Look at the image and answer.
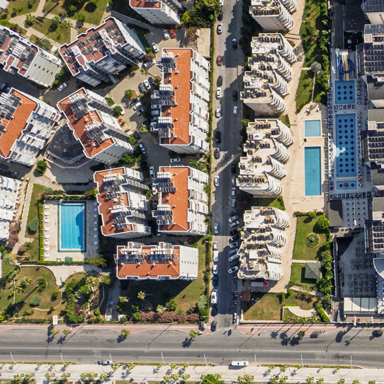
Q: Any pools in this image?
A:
Yes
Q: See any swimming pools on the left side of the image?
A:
Yes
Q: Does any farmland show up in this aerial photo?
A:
No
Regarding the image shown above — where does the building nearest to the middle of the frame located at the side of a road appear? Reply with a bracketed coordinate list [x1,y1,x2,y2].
[155,167,209,235]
